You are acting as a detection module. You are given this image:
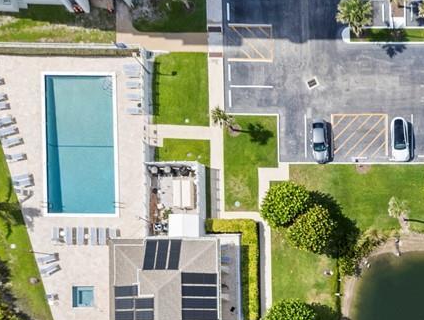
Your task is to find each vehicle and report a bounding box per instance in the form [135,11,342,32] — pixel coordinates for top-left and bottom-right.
[310,120,330,164]
[390,118,411,162]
